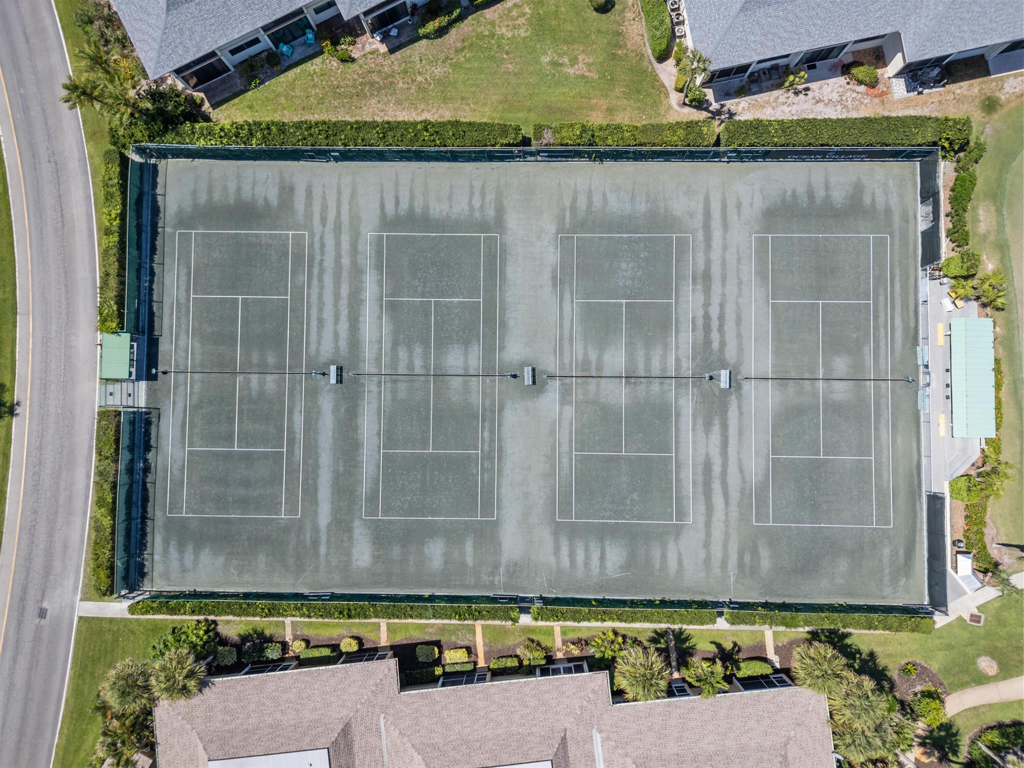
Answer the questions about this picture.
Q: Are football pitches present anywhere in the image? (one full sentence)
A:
No, no football pitch can be seen from above.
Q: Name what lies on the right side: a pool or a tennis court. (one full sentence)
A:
What appears on the right side is a tennis court.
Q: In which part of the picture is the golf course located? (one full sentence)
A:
You can find the golf course in the right area of the picture.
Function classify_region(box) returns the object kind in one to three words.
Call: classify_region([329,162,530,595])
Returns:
tennis court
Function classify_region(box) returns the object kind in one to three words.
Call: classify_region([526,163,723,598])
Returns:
tennis court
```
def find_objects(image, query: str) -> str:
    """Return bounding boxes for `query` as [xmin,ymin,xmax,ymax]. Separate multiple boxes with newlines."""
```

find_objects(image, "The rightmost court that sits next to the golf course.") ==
[722,163,926,605]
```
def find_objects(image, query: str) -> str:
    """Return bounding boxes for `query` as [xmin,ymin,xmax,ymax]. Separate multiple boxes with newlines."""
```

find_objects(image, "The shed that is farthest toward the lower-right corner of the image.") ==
[950,552,983,592]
